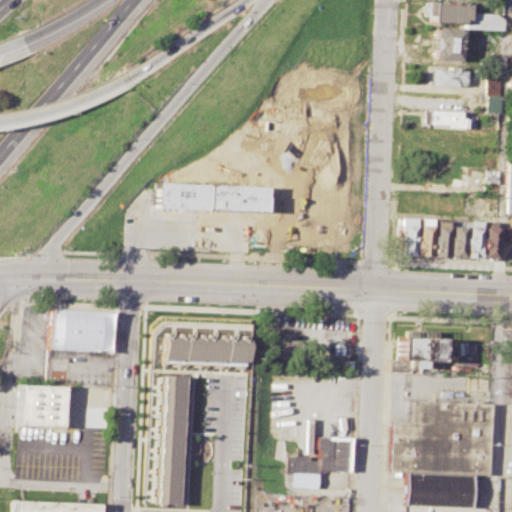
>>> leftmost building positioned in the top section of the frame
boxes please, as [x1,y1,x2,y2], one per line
[153,184,216,212]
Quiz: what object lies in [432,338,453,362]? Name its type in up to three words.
house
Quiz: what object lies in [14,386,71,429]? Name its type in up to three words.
building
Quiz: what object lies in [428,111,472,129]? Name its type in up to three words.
house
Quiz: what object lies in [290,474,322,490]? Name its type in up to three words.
shed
